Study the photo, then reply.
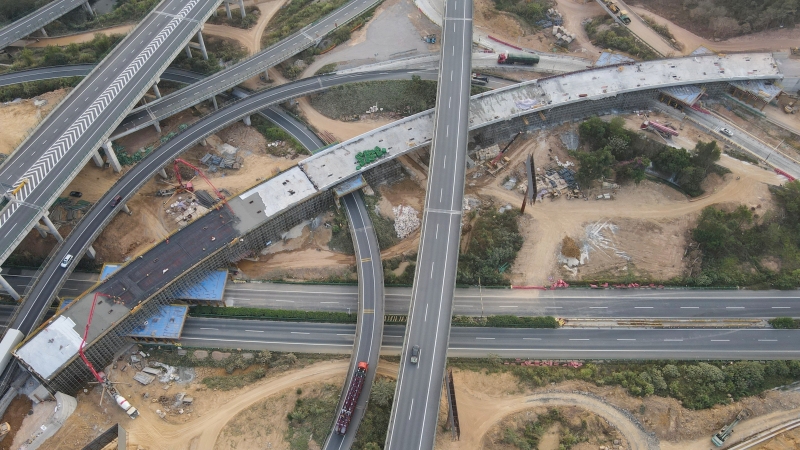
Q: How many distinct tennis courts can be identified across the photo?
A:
0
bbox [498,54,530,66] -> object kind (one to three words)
vehicle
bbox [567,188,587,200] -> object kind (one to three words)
vehicle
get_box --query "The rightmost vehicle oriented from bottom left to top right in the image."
[711,415,744,441]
